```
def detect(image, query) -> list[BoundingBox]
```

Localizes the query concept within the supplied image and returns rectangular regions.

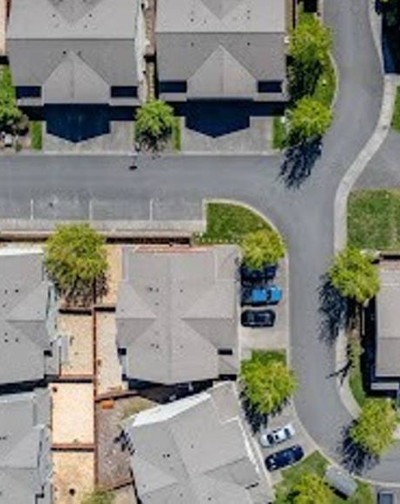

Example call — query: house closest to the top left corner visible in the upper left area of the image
[7,0,147,106]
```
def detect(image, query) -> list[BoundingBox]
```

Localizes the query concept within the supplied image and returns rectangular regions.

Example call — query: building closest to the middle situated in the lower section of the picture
[118,243,239,382]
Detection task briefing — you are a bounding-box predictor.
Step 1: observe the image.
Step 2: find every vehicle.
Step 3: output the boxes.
[259,421,297,447]
[239,309,275,327]
[376,487,393,504]
[241,264,277,282]
[242,288,282,304]
[266,444,306,470]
